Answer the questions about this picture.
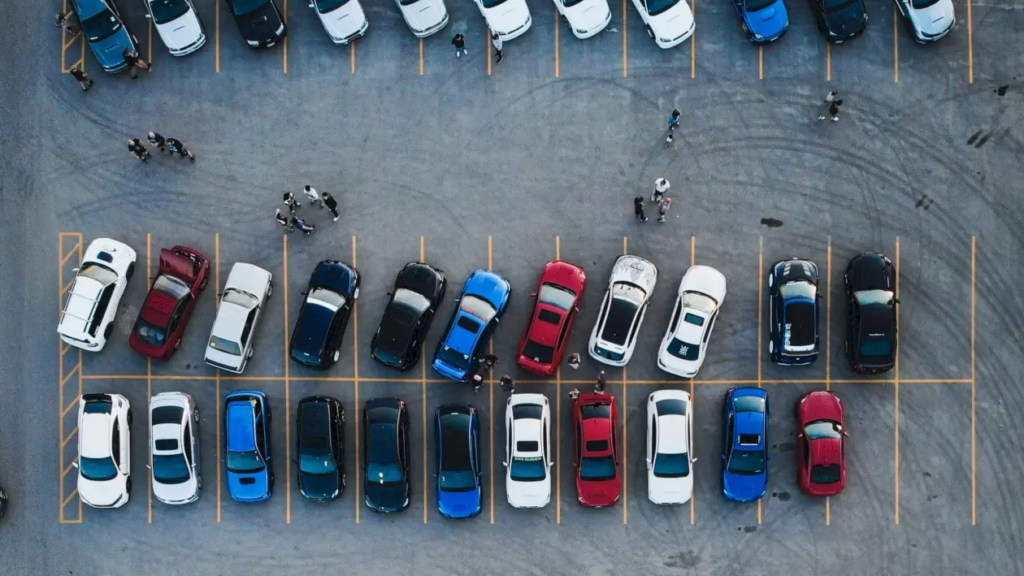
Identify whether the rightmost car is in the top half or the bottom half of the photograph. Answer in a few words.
top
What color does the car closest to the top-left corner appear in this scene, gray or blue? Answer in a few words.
blue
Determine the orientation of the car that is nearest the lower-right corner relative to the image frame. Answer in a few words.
from top to bottom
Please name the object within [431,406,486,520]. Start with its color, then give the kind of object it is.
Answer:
blue car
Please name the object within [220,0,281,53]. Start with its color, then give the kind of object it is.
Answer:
black car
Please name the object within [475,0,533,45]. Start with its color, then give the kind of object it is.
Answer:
white car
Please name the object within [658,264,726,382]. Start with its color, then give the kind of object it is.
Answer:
white car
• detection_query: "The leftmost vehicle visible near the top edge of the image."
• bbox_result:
[55,0,131,79]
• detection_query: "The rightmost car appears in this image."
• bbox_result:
[903,0,957,45]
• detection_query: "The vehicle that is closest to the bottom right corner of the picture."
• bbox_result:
[797,391,853,497]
